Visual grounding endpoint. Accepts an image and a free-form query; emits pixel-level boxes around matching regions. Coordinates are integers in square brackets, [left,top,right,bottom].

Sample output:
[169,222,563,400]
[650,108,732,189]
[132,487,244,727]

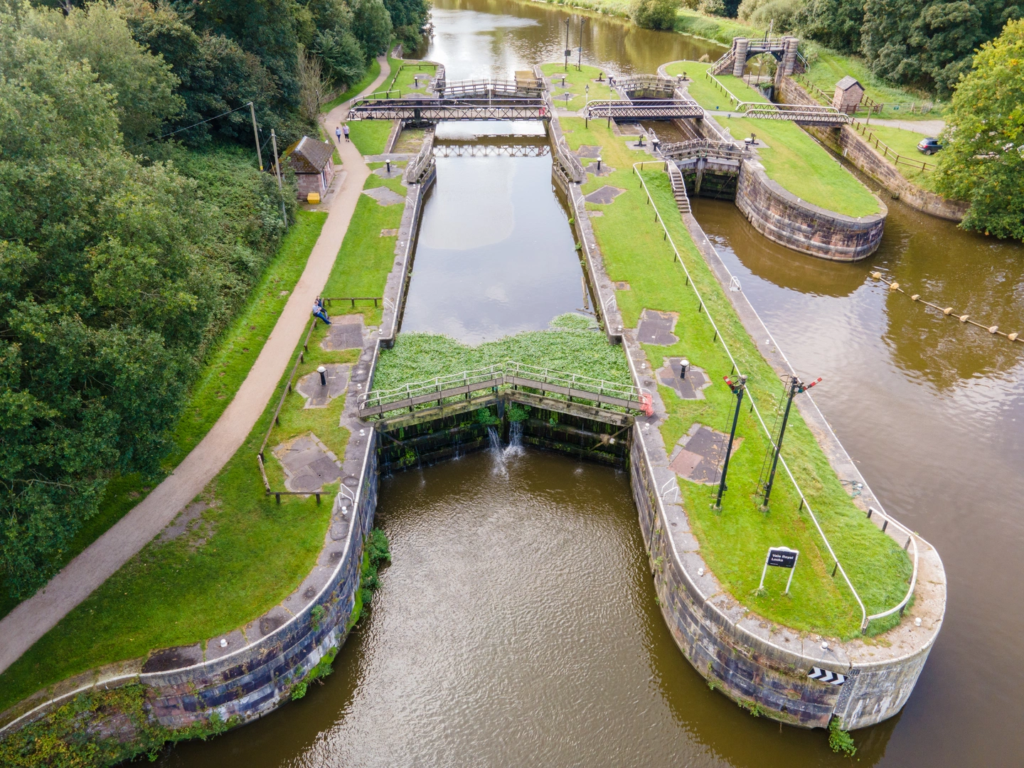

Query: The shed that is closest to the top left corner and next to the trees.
[268,137,336,203]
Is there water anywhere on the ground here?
Yes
